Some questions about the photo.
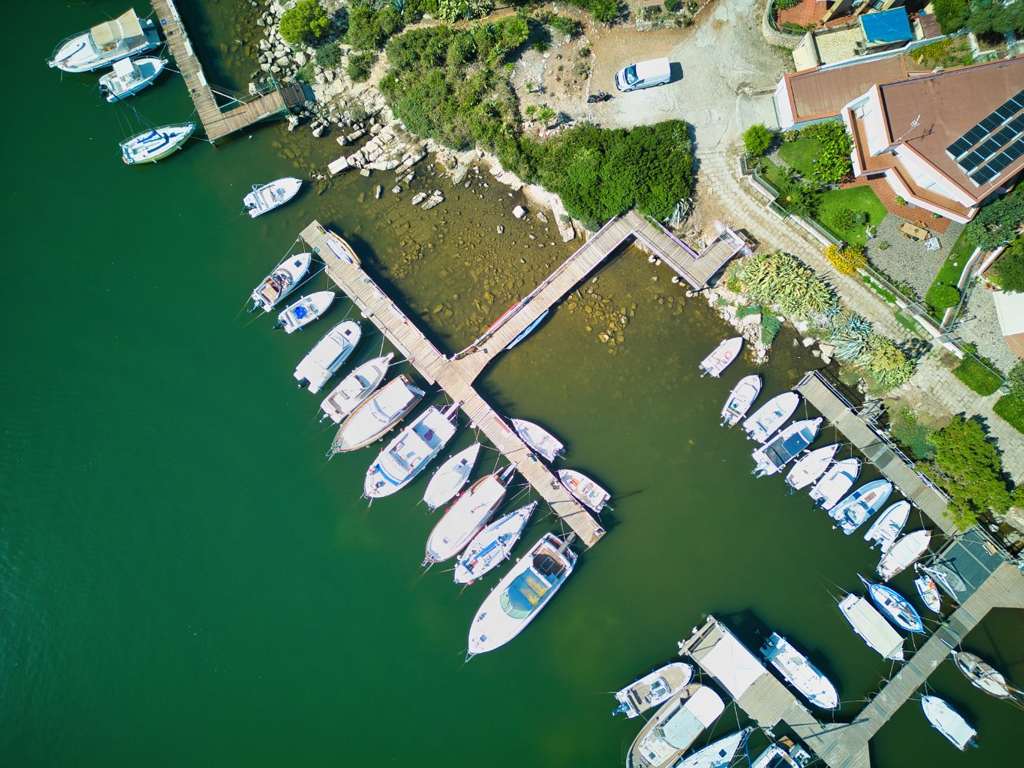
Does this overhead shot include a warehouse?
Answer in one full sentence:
No, I can see no warehouse in this picture.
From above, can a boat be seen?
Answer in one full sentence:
Yes, the frame does contain a boat.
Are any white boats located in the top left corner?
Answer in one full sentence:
Yes, a white boat appears in the top left corner.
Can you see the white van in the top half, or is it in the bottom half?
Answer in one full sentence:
The white van sits in the top half of the picture.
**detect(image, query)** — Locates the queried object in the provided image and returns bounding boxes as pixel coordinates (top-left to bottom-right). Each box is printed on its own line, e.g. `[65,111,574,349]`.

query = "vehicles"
[613,60,674,94]
[587,88,608,102]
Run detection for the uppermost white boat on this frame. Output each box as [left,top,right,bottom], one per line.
[43,10,170,73]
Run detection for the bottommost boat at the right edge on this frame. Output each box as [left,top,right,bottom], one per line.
[916,691,980,752]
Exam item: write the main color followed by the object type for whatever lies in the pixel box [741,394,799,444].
white boat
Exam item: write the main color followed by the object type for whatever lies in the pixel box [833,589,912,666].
white boat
